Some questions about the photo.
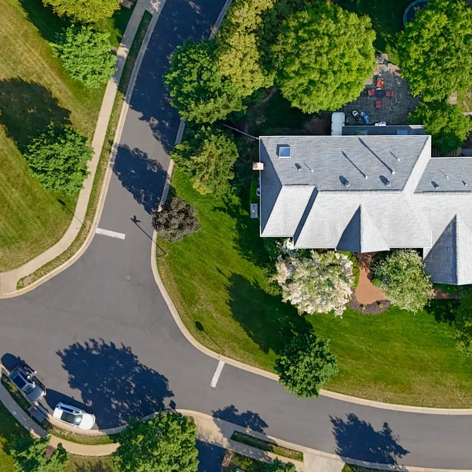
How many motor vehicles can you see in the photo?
2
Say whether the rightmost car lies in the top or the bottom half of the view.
bottom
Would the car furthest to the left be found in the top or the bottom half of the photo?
bottom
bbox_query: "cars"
[51,403,95,430]
[7,365,45,403]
